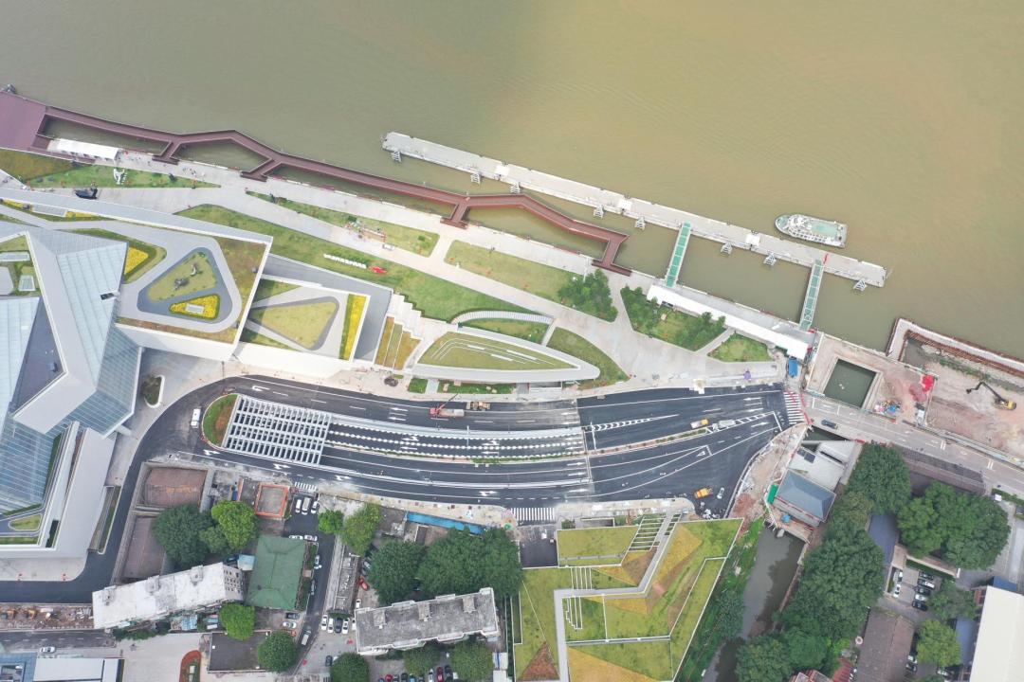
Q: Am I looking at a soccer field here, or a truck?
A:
truck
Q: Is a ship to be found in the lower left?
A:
No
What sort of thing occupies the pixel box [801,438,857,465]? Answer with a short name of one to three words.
building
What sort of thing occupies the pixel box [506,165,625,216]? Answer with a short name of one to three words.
pier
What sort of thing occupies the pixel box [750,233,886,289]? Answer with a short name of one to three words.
pier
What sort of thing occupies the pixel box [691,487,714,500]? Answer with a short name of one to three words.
vehicle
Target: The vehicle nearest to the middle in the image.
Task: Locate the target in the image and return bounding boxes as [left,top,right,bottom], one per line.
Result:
[431,382,466,419]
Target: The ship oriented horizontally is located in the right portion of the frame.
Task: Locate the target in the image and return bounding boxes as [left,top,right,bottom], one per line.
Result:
[775,214,848,249]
